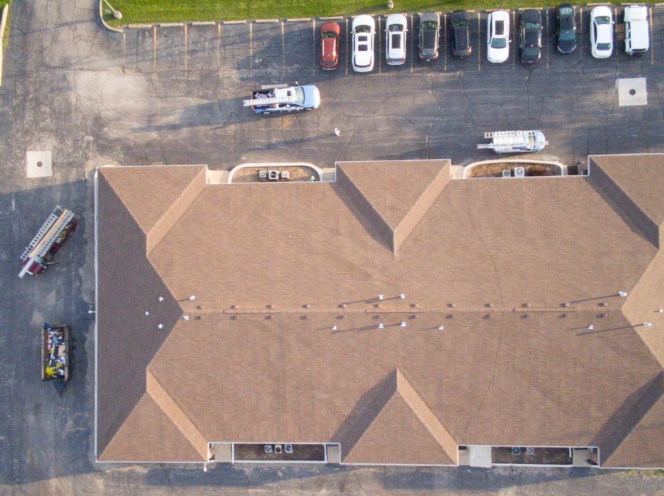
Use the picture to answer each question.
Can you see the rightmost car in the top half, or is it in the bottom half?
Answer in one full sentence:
The rightmost car sits in the top half of the picture.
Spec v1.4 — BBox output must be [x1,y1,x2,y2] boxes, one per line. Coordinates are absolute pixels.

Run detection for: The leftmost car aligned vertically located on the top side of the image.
[317,23,340,72]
